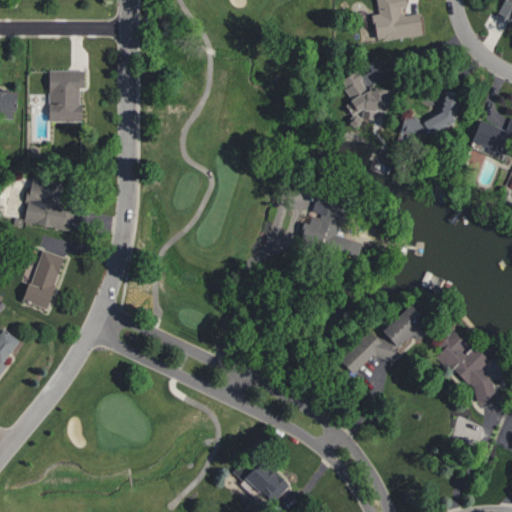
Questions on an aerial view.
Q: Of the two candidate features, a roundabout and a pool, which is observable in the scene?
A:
pool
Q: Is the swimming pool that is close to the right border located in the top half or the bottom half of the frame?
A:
top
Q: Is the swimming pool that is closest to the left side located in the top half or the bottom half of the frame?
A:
top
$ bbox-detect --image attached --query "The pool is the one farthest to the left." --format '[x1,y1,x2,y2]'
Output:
[30,94,50,144]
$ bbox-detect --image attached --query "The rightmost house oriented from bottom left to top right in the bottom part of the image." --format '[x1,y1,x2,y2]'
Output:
[345,308,419,373]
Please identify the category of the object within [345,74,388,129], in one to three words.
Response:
house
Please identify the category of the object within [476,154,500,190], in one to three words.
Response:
swimming pool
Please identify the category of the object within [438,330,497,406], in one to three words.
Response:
house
